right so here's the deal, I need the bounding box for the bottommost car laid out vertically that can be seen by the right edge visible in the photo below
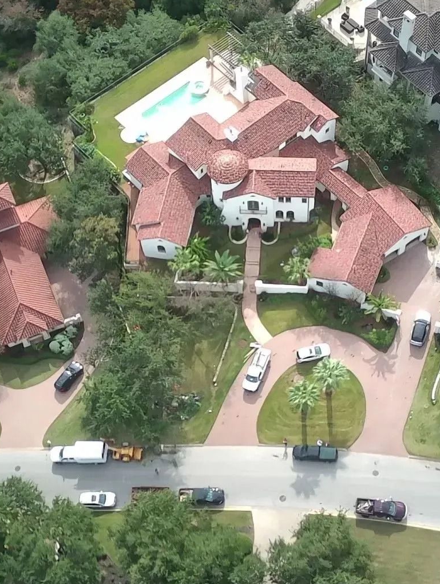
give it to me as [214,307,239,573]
[409,309,431,348]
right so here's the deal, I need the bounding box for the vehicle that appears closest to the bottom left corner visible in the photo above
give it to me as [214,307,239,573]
[78,491,117,509]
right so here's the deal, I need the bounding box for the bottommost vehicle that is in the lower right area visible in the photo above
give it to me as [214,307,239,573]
[355,497,408,521]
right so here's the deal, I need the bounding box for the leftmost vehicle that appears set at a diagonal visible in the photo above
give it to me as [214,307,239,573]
[54,361,84,393]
